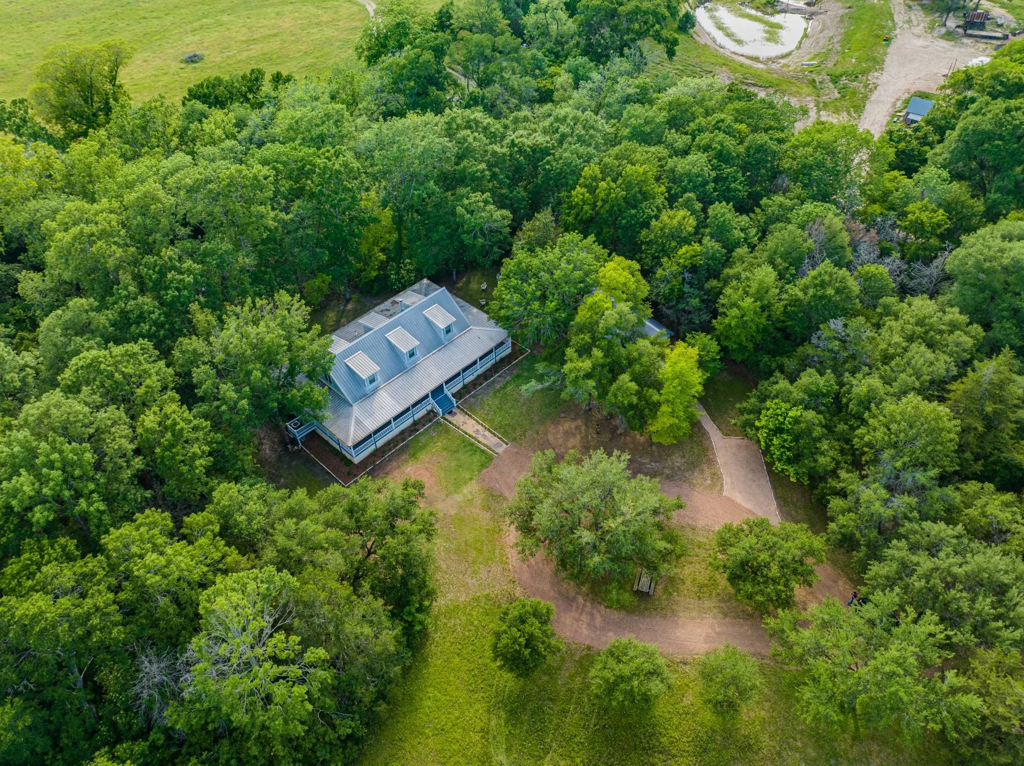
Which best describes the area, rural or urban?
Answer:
rural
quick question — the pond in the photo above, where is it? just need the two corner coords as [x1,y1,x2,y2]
[697,0,807,57]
